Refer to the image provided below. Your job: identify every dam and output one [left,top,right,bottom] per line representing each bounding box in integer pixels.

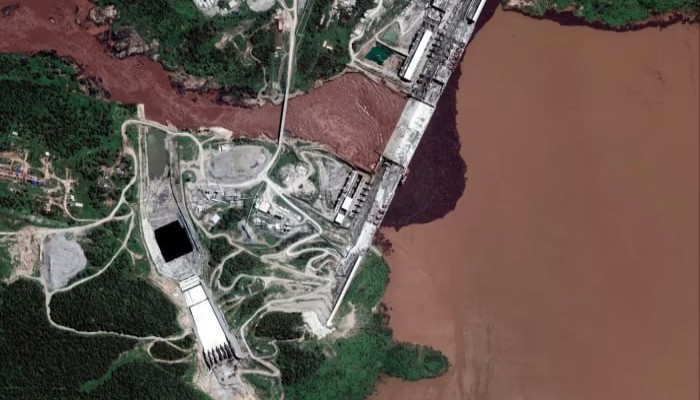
[327,0,486,323]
